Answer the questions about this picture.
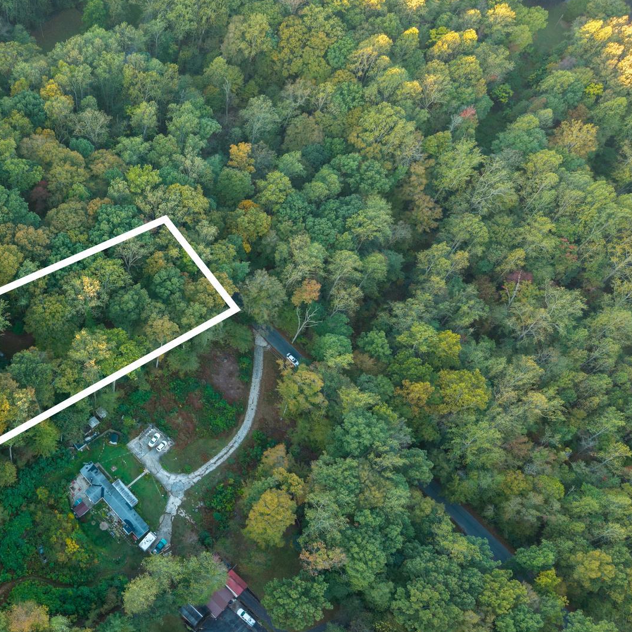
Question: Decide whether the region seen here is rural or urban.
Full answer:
The area is rural.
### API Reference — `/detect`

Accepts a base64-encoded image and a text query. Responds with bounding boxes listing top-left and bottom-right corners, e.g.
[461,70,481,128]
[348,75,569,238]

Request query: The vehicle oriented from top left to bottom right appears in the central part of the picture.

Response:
[285,353,301,368]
